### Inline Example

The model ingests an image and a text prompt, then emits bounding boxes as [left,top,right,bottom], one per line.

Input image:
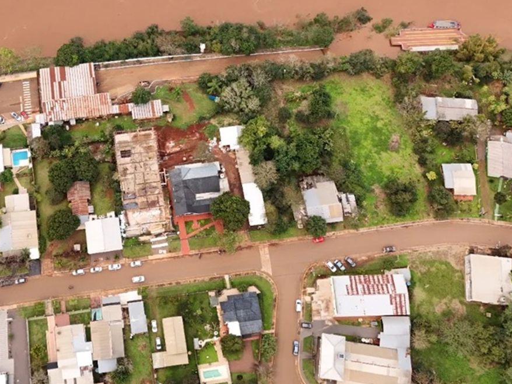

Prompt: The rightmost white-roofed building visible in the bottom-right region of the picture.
[458,254,512,308]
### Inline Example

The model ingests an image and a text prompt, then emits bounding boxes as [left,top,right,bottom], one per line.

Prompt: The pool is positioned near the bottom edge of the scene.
[201,365,231,383]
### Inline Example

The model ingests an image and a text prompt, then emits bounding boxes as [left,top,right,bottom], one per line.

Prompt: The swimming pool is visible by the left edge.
[11,149,31,167]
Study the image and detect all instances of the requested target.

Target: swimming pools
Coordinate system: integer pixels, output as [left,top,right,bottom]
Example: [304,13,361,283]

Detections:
[201,365,231,383]
[11,149,31,167]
